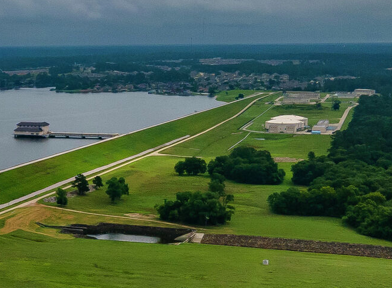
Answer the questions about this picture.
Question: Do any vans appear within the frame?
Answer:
No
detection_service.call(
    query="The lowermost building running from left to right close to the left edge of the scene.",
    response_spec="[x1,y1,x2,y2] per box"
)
[14,120,53,137]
